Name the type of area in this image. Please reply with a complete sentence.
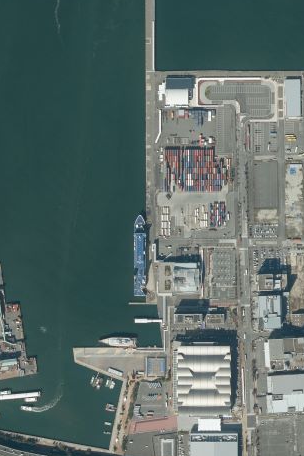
The picture captures a port.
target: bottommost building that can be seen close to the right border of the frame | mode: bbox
[254,375,304,412]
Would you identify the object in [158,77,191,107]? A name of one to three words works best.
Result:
building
